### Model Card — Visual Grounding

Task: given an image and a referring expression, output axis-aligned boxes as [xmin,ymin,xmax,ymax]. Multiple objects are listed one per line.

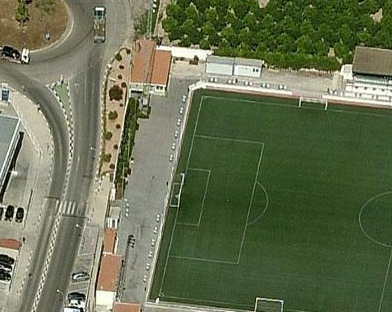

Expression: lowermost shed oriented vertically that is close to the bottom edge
[96,254,122,299]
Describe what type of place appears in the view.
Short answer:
sports ground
